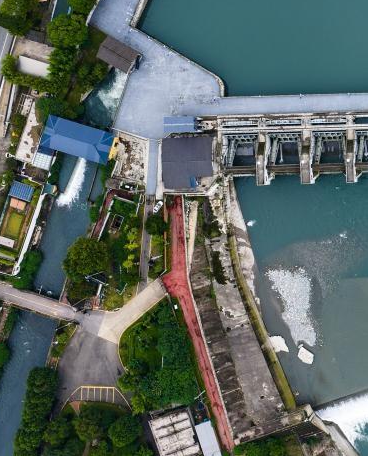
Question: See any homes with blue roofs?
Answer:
Yes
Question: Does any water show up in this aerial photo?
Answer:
Yes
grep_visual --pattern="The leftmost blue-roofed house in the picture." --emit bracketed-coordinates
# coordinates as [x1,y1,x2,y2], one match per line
[9,180,40,202]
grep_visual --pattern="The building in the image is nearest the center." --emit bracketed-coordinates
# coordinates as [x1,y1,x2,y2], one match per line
[161,136,215,189]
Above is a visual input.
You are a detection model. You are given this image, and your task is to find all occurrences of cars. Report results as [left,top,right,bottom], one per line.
[122,183,135,190]
[152,200,164,212]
